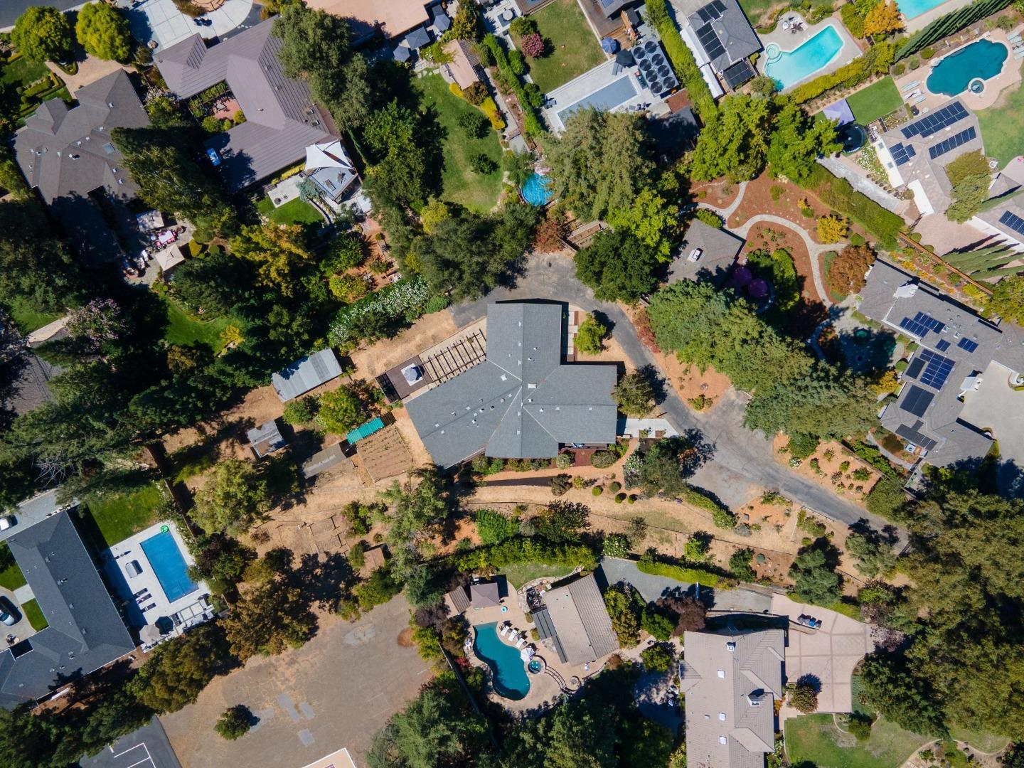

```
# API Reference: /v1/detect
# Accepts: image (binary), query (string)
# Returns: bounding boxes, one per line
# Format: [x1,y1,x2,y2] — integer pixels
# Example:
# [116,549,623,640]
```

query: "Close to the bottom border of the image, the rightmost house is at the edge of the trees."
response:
[678,622,786,768]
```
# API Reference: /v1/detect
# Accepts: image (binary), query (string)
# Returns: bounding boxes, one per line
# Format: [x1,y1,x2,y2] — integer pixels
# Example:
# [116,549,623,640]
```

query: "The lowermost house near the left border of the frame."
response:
[0,510,145,707]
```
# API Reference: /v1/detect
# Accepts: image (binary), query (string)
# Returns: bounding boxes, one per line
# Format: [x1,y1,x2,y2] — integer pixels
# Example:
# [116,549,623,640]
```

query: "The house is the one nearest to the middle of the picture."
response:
[404,303,618,469]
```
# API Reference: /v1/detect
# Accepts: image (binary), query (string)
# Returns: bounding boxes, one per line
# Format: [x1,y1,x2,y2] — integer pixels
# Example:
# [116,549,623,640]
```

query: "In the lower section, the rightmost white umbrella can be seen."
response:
[520,646,534,661]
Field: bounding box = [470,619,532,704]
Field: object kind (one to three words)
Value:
swimming pool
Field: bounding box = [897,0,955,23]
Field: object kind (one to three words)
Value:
swimming pool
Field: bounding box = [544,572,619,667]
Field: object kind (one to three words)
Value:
building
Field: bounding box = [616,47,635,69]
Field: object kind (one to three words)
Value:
umbrella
